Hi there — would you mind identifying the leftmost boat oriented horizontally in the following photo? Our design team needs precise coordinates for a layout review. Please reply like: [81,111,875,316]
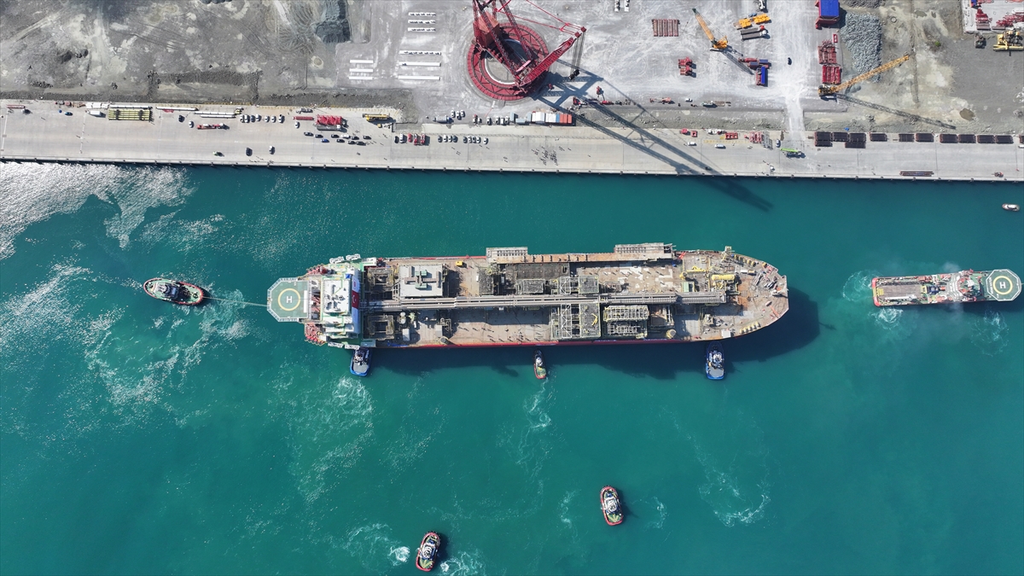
[140,277,205,309]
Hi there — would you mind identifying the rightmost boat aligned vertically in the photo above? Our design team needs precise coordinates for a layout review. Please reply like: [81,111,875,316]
[706,340,726,381]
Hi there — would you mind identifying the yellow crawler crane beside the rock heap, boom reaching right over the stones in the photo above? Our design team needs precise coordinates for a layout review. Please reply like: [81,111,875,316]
[824,54,915,95]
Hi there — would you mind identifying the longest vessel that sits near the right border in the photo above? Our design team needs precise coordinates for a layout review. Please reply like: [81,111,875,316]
[867,268,1022,308]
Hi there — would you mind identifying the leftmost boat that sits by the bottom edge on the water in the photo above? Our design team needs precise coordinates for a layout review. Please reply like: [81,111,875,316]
[412,532,441,575]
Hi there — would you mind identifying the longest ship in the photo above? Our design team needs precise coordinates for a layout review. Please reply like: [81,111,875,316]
[267,243,790,351]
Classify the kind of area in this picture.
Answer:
port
